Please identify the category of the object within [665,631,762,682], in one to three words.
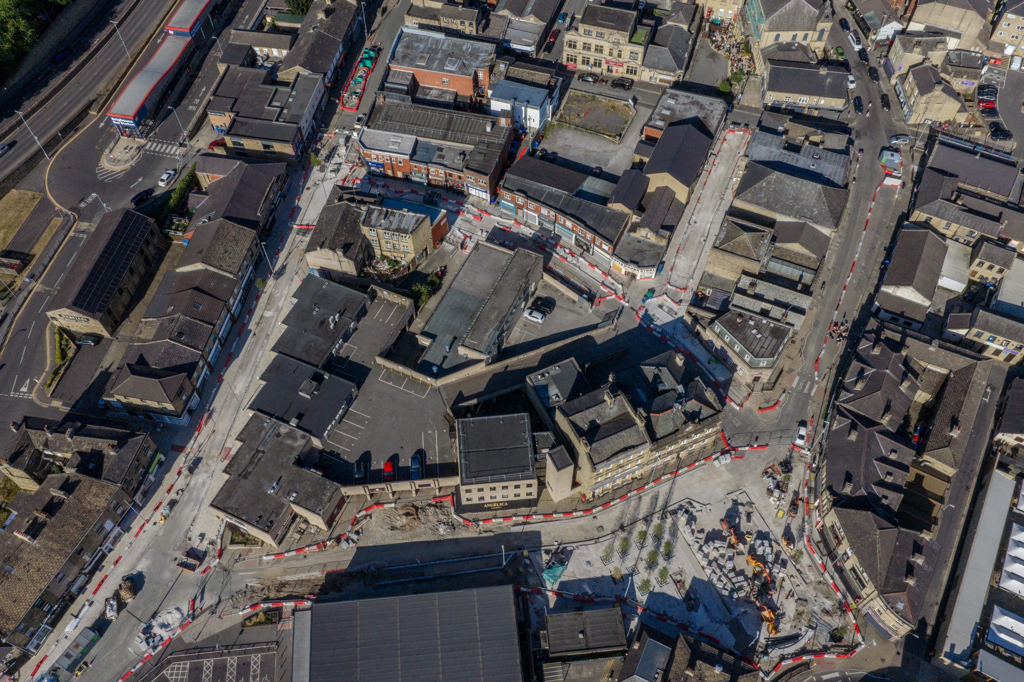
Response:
house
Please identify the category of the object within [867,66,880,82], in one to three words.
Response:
vehicle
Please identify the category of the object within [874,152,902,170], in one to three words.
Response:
vehicle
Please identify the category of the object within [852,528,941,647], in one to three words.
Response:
building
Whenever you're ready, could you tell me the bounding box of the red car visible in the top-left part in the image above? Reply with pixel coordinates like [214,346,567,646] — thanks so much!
[208,135,227,149]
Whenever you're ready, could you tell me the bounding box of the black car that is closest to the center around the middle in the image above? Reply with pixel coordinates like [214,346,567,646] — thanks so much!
[531,294,556,314]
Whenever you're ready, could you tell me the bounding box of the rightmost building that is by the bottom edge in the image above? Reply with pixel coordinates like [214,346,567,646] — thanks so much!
[928,467,1017,669]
